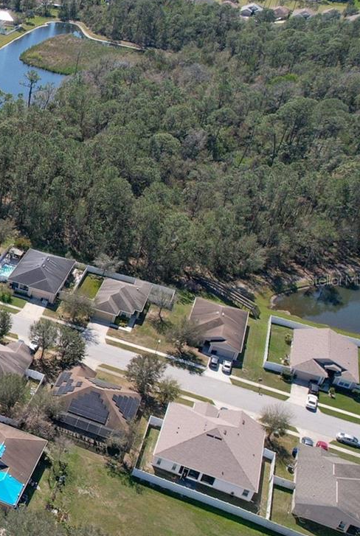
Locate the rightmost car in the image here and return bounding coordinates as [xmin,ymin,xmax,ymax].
[338,432,360,447]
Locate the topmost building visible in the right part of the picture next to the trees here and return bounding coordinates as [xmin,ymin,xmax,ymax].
[185,297,248,360]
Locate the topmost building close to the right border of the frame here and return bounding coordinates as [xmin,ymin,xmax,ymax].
[291,329,360,398]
